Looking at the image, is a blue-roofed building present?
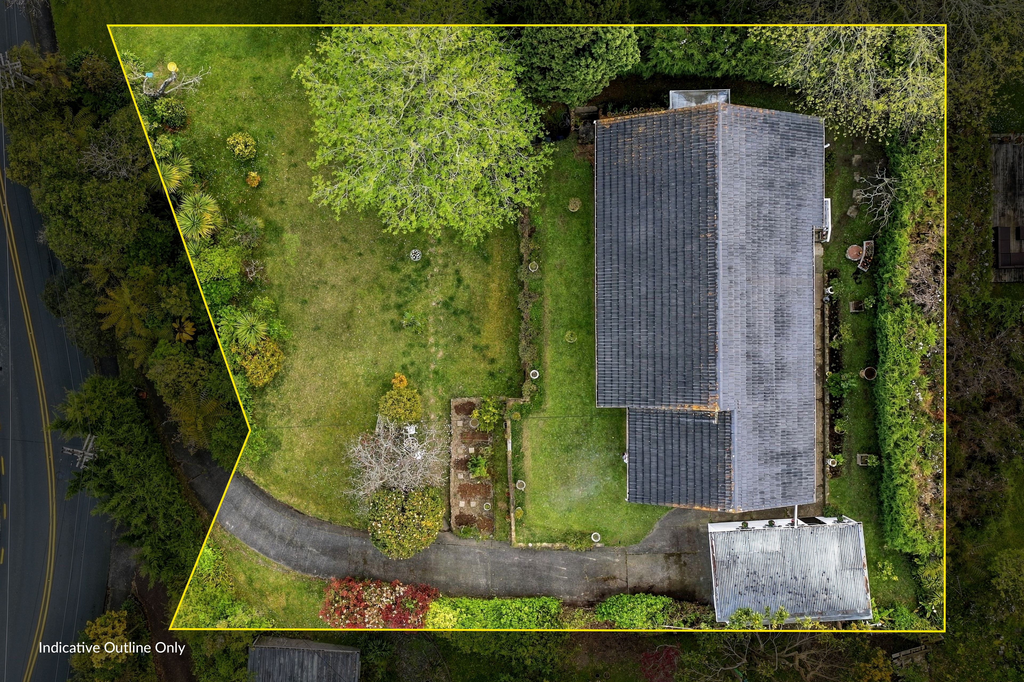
No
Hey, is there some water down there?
No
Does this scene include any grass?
Yes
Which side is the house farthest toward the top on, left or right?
right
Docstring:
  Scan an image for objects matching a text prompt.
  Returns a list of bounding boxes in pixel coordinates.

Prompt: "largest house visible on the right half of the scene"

[593,91,831,530]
